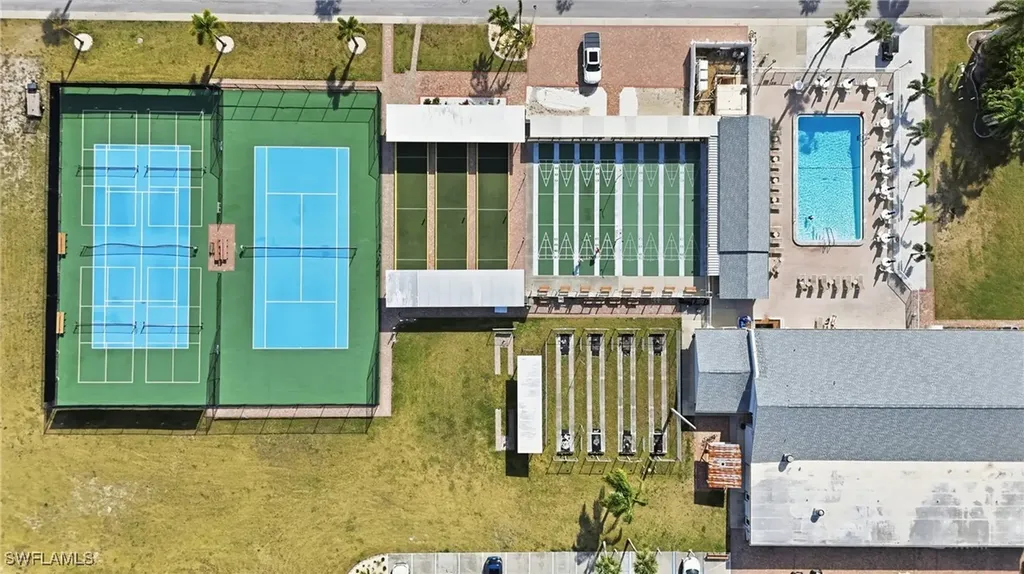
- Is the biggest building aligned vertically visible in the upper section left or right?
right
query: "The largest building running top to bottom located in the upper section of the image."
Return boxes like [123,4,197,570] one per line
[716,115,771,299]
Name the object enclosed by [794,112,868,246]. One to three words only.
swimming pool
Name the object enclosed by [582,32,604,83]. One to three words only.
truck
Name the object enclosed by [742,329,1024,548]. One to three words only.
building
